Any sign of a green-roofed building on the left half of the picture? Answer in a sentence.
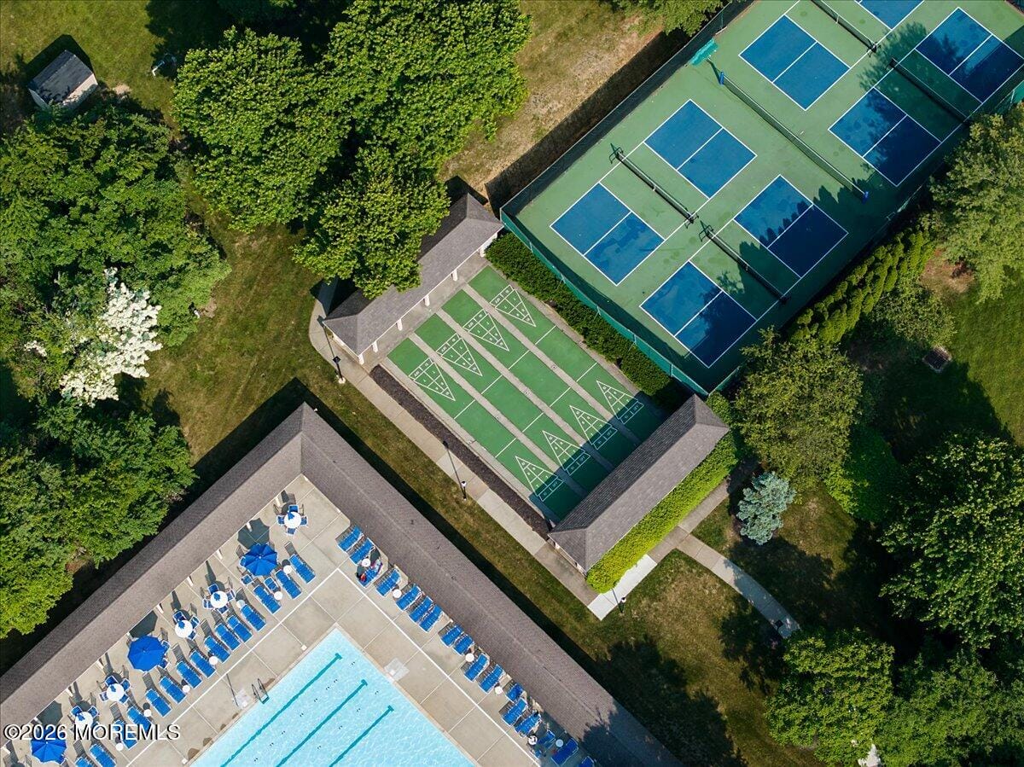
No, no green-roofed building is visible on the left half of the picture.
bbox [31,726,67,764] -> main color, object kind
blue umbrella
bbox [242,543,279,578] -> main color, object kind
blue umbrella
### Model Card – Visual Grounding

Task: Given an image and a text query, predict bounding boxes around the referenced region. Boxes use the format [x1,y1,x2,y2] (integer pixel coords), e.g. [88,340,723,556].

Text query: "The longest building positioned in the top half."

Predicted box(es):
[323,192,504,367]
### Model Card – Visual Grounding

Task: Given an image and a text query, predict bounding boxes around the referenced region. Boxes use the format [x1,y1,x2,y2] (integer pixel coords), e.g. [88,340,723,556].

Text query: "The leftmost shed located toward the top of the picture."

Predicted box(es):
[27,51,99,123]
